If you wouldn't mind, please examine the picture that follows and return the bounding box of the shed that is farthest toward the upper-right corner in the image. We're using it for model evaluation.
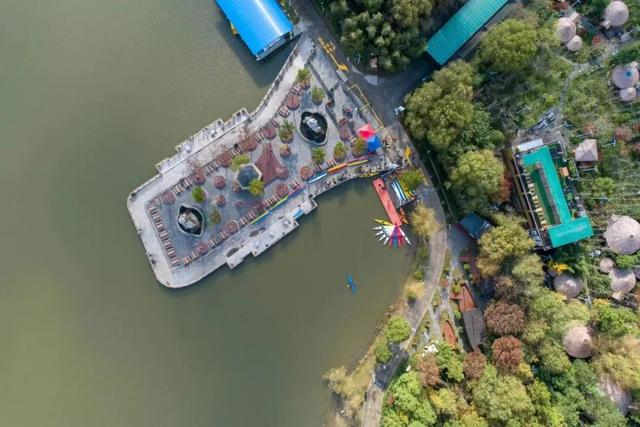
[592,2,626,34]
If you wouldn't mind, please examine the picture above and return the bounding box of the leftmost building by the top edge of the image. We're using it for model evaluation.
[216,0,299,69]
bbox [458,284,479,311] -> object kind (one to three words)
house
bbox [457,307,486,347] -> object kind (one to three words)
house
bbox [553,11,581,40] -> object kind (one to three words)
shed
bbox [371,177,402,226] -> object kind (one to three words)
pier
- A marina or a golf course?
marina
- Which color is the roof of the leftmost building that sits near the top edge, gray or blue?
blue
